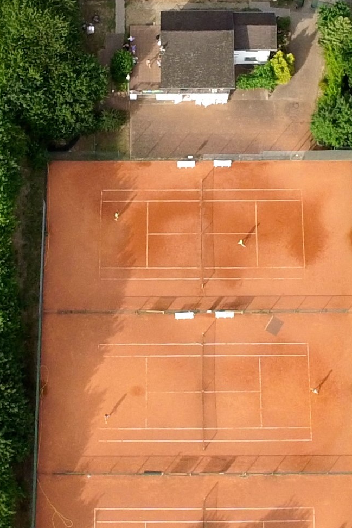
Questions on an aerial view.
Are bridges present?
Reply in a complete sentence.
No, there appears to be no bridge in this shot.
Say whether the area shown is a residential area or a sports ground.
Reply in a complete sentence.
It's a sports ground.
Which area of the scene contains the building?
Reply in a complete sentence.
You can find the building in the top area of the picture.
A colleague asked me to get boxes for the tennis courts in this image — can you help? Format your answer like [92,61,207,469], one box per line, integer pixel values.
[34,473,352,528]
[41,160,352,311]
[35,309,352,475]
